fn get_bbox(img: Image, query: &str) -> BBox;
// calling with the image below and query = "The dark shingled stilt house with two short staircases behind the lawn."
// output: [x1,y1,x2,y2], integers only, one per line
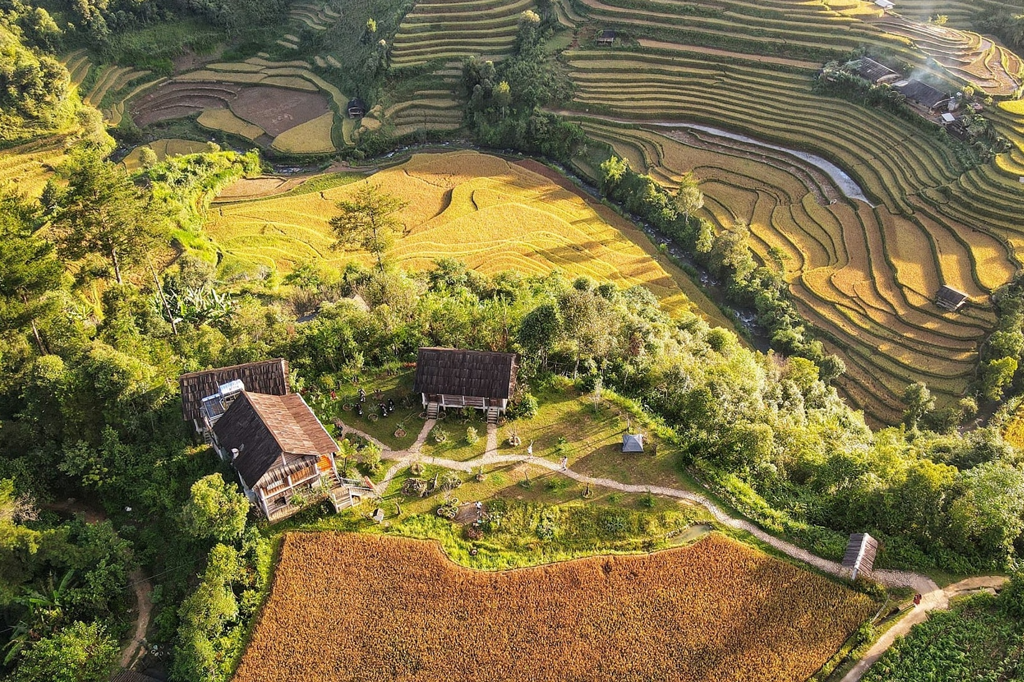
[413,346,519,431]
